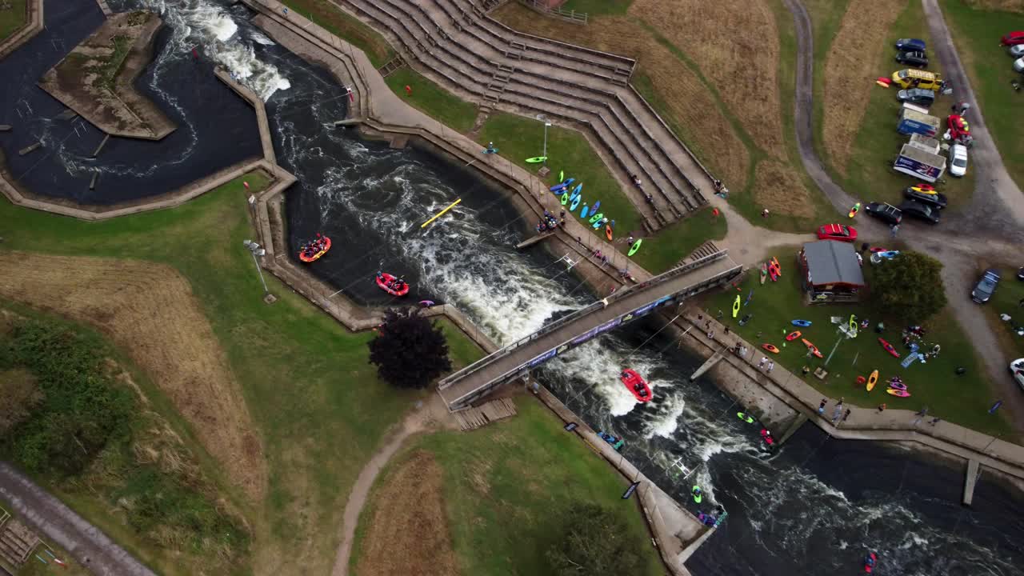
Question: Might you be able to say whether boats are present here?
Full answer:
Yes, there's a boat down there.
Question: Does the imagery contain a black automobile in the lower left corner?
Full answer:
No, I see no black automobile in the lower left corner.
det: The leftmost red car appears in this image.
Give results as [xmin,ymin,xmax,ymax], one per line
[815,222,860,245]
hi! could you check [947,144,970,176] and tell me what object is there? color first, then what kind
white car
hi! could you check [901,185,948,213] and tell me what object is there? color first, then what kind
black car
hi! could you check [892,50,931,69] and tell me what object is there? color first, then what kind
black car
